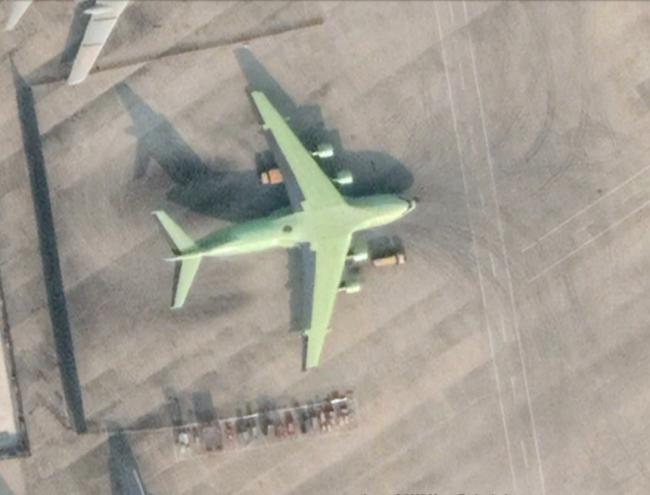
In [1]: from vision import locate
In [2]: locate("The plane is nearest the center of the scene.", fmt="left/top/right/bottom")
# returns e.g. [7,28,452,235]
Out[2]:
[149,92,416,369]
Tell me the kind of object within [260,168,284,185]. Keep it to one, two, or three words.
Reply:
vehicle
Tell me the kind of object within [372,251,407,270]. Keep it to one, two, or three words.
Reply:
vehicle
